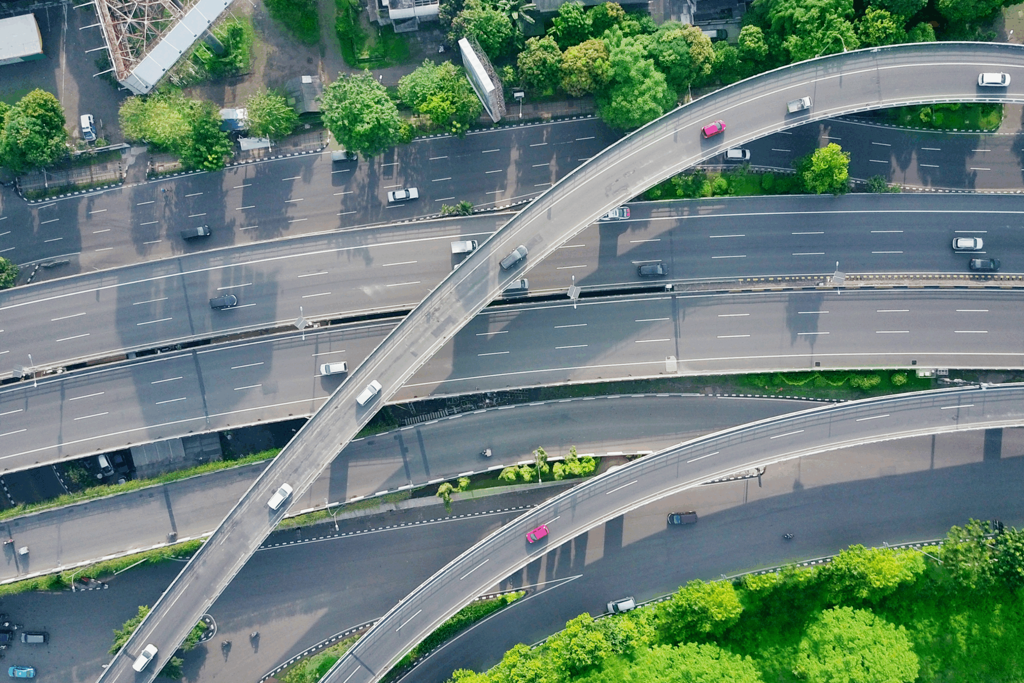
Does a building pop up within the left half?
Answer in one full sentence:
Yes, you'll find a building within the left half.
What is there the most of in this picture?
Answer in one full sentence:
For the most part, this view shows paved ground.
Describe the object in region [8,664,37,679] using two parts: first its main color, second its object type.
blue car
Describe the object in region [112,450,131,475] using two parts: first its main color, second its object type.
black car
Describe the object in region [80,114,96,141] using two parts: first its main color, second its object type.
white car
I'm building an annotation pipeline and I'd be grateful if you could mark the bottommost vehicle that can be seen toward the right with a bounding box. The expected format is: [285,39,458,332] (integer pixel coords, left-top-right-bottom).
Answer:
[607,597,637,613]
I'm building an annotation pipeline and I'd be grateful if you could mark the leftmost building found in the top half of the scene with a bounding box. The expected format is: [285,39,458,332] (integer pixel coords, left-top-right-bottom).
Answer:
[0,13,53,67]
